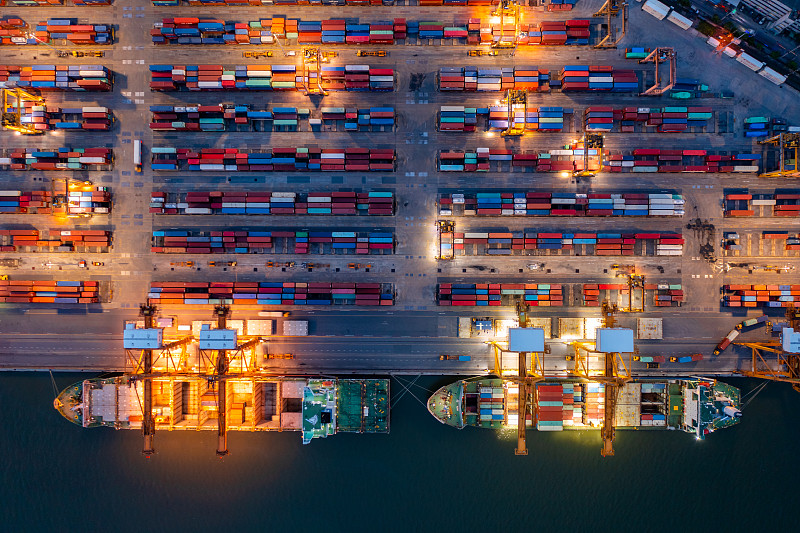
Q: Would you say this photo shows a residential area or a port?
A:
port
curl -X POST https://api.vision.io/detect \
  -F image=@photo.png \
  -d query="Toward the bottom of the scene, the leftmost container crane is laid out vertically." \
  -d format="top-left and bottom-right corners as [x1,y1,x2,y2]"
[123,297,191,454]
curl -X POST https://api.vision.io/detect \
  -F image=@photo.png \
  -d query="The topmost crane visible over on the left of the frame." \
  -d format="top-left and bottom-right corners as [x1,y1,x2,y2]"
[302,48,328,98]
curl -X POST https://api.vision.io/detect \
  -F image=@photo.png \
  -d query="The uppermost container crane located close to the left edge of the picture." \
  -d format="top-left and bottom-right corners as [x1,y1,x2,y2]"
[3,88,41,135]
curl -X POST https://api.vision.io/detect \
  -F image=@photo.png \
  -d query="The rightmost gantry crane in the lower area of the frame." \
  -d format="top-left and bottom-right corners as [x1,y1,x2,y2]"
[739,301,800,395]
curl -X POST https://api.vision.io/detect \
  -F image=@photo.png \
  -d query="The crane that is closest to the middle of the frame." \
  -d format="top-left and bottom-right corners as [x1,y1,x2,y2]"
[433,219,458,261]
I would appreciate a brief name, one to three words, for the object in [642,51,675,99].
container crane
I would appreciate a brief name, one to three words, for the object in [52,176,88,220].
container crane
